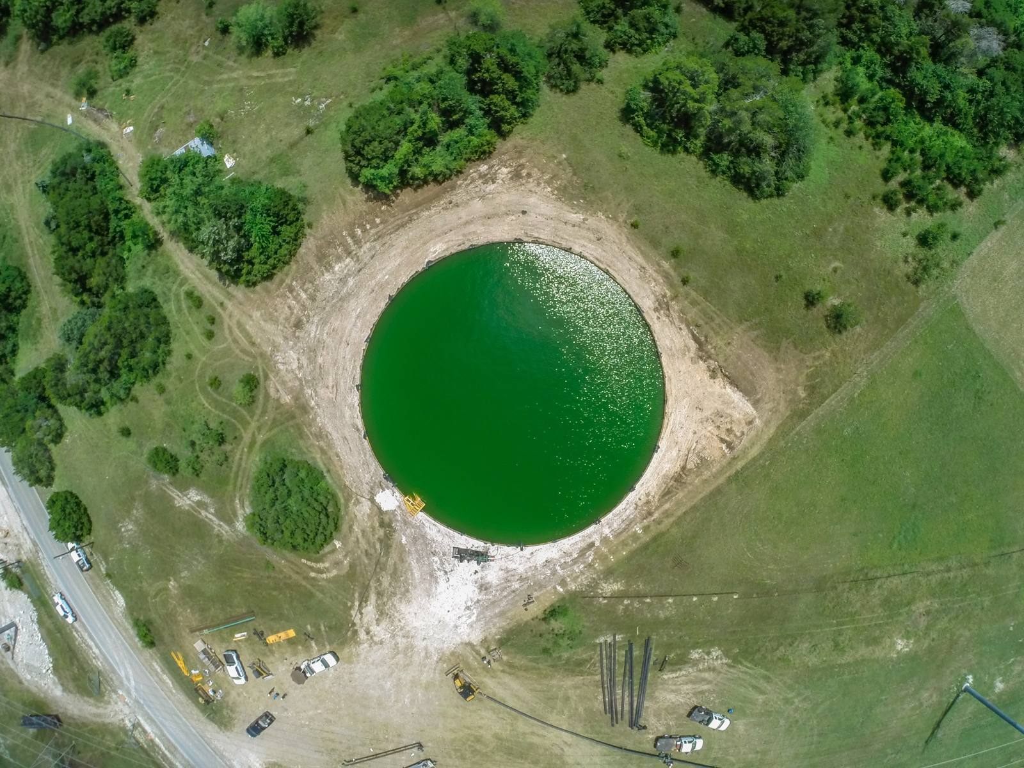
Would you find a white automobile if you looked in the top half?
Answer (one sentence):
No, I can find no white automobile in the top half.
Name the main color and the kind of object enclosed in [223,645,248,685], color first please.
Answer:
white truck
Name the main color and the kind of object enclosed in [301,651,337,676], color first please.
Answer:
white car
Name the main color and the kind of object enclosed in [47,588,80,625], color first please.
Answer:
white truck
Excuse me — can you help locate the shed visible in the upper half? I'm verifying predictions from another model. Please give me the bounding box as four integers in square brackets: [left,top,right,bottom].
[167,137,217,163]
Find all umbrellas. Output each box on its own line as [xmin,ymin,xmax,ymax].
[292,668,308,685]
